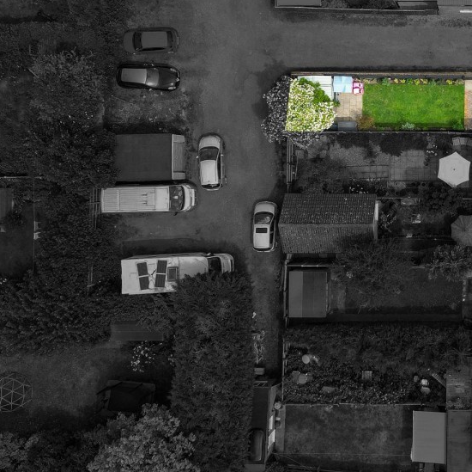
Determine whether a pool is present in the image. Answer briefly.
No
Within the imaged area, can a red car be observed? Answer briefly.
No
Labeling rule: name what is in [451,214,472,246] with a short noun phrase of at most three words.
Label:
umbrella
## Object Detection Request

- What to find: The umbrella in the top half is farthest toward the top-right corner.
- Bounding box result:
[438,150,471,186]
